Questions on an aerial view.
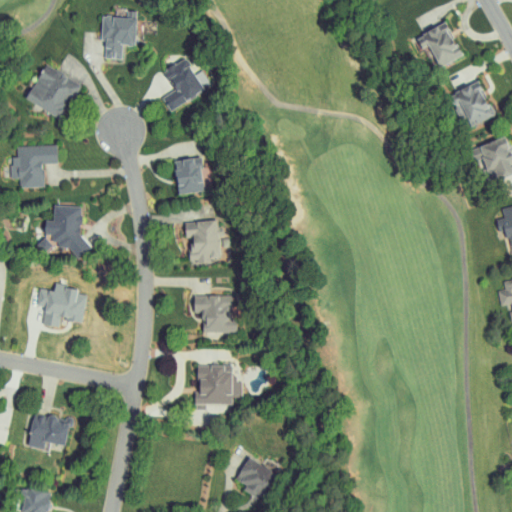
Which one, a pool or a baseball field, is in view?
pool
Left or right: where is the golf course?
right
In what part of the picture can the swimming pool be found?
bottom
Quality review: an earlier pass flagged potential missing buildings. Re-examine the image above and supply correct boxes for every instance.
[12,146,58,188]
[450,80,500,132]
[184,216,230,264]
[415,19,467,69]
[196,364,243,405]
[175,158,206,196]
[161,60,210,112]
[37,282,87,328]
[102,11,138,60]
[17,489,54,512]
[236,456,273,500]
[470,134,512,182]
[23,414,74,456]
[500,280,512,320]
[26,64,83,120]
[194,294,238,333]
[46,206,94,262]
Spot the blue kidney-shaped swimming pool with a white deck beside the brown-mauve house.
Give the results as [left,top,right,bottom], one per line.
[244,366,270,396]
